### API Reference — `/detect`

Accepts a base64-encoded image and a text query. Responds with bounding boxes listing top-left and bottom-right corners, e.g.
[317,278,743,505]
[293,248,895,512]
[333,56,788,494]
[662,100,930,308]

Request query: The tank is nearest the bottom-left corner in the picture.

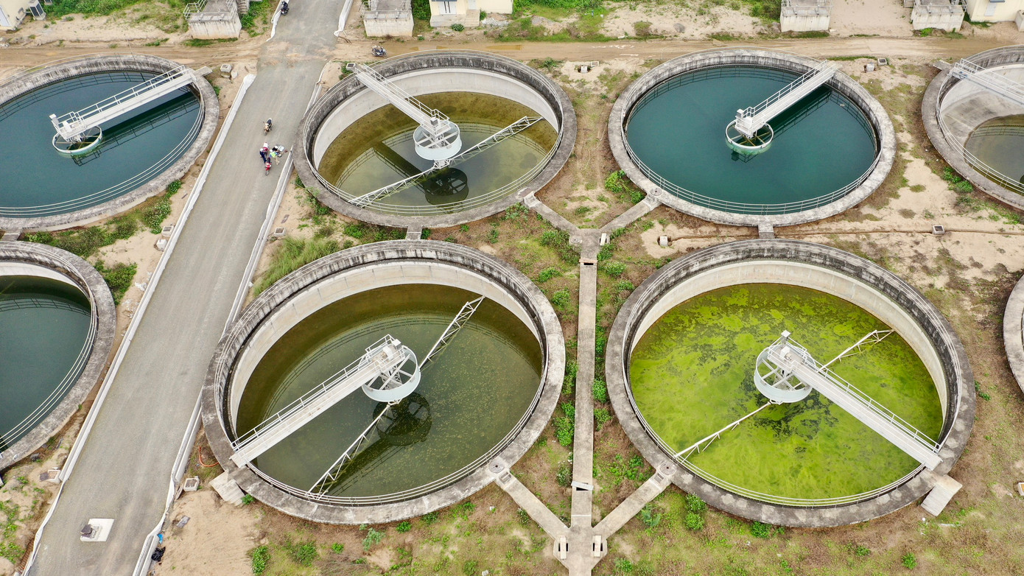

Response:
[0,242,117,475]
